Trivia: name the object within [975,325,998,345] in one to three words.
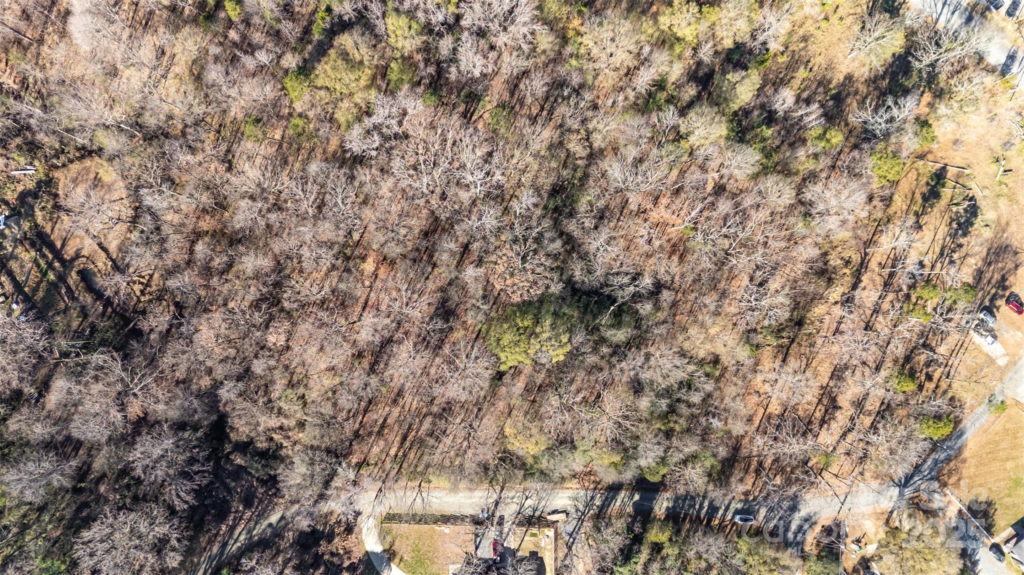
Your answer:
vehicle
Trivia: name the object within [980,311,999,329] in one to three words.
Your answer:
car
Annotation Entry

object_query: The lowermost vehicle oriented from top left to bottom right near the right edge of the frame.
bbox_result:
[991,545,1011,565]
